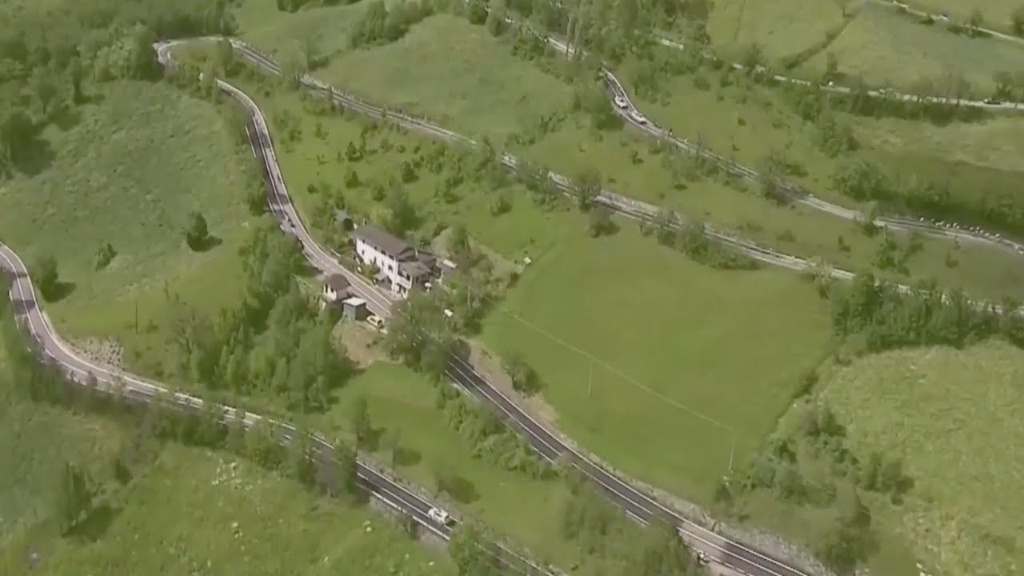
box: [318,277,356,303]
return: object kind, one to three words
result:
shed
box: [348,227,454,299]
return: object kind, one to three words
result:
house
